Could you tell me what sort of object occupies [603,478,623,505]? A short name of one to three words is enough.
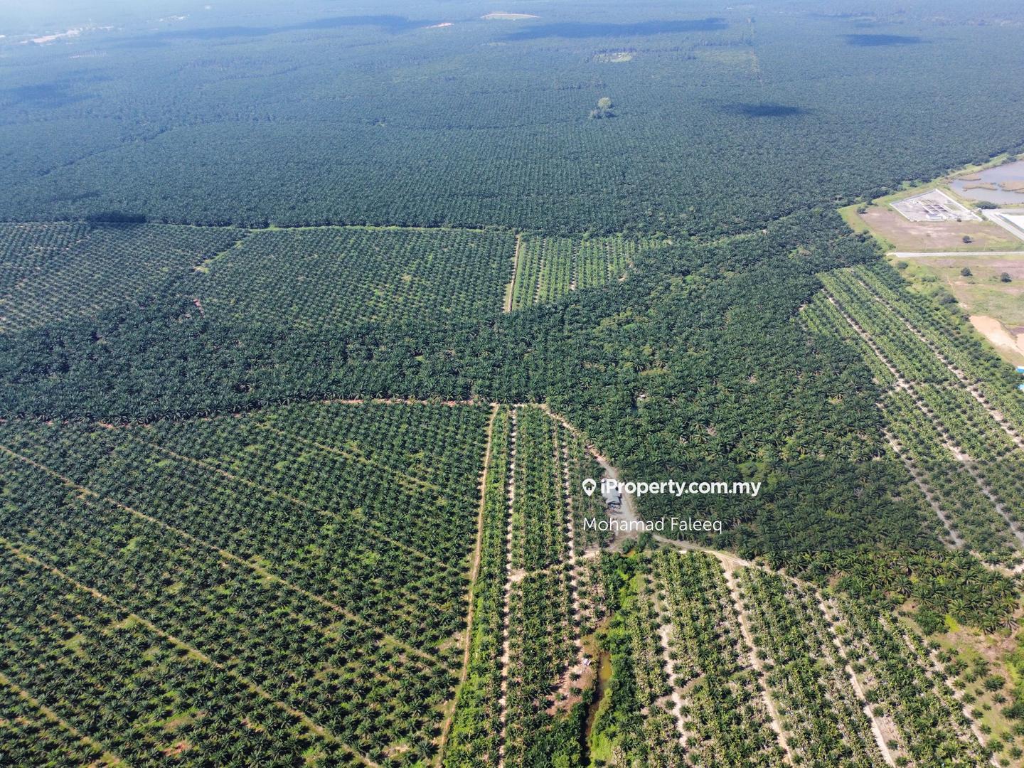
shed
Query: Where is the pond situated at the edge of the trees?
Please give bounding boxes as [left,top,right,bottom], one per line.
[951,160,1024,204]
